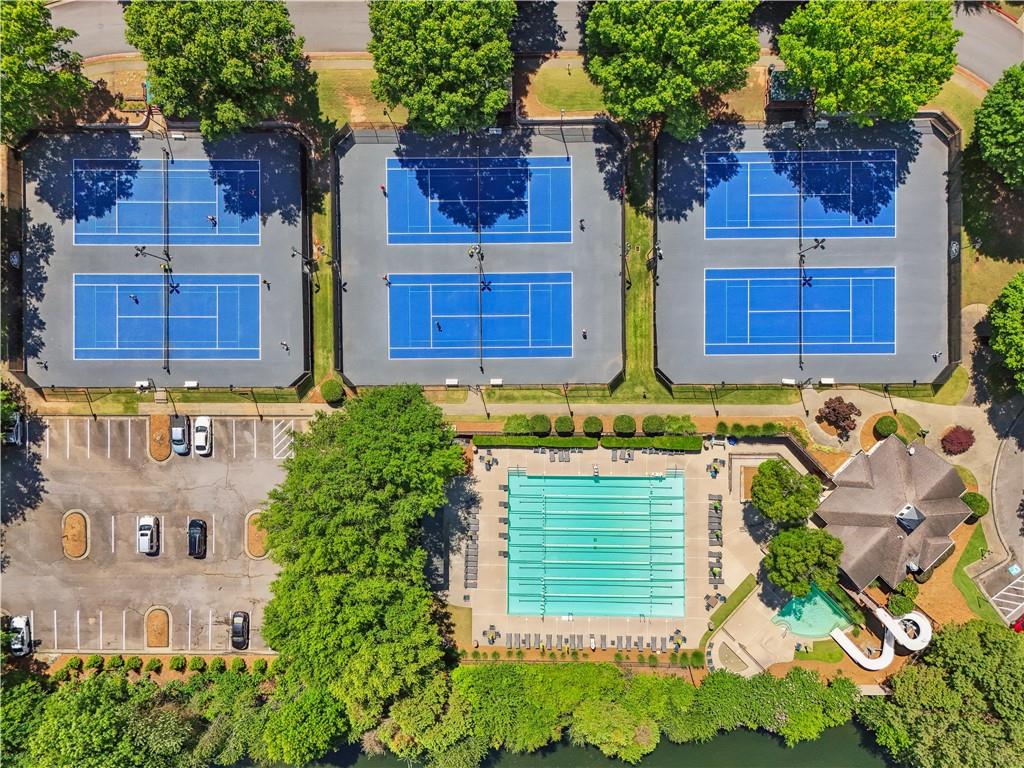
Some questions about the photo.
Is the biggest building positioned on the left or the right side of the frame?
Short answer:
right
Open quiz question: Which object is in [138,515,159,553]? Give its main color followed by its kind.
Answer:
white car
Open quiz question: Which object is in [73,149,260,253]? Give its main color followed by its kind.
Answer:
blue tennis court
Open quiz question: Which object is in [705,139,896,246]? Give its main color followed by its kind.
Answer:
blue tennis court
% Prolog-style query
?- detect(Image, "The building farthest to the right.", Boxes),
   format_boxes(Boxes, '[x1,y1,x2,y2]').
[810,432,973,591]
